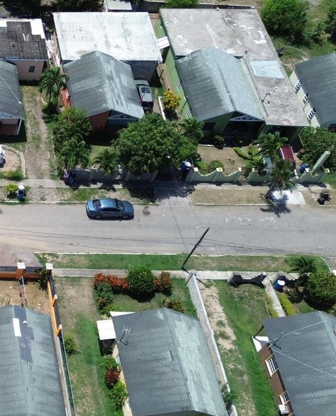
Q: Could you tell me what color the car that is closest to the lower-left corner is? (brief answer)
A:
blue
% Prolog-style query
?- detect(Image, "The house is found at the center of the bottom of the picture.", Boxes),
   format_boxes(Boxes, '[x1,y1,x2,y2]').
[90,308,227,416]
